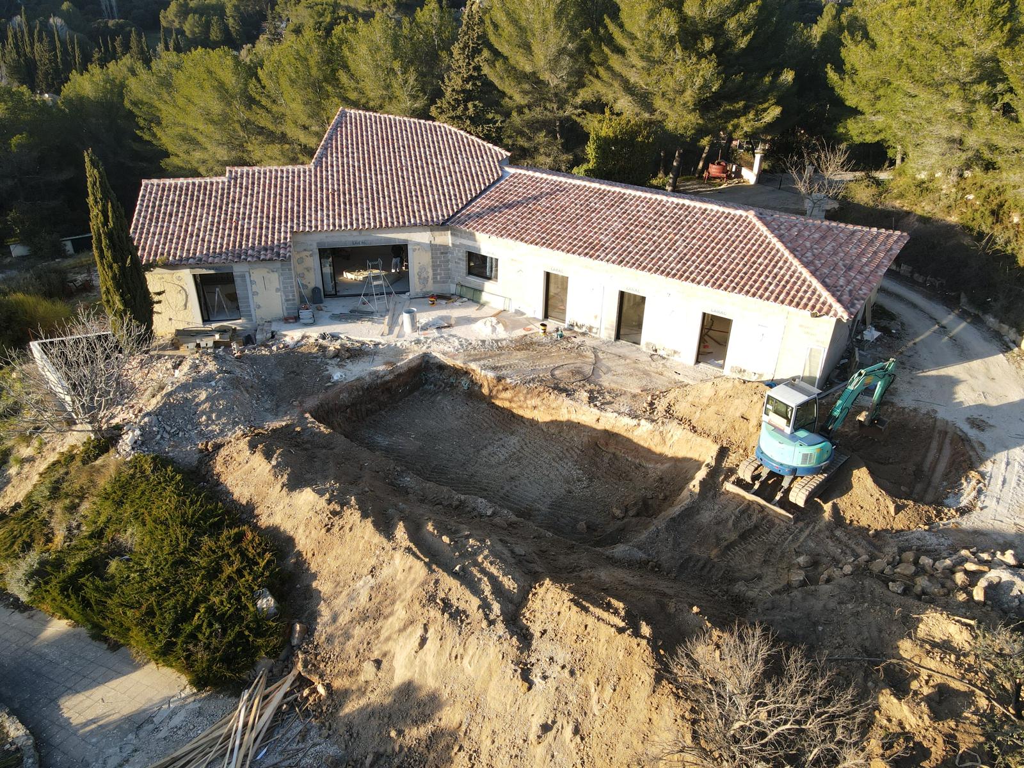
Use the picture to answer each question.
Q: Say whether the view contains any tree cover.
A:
Yes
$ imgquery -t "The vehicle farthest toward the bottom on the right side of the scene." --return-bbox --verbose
[727,356,904,526]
